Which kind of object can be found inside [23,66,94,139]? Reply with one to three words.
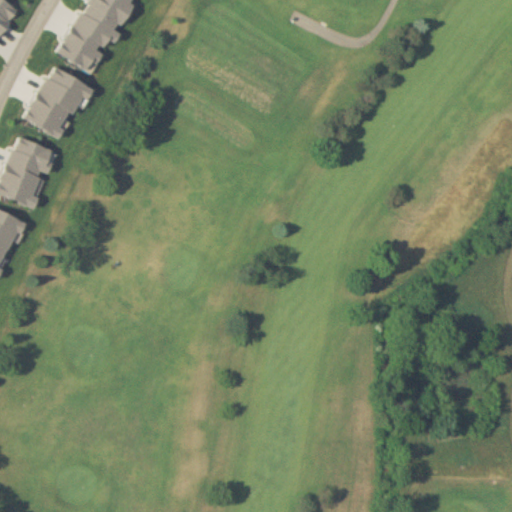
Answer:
house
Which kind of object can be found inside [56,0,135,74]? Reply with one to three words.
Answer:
house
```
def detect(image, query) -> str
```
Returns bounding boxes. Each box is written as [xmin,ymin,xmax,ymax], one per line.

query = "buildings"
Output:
[0,0,18,37]
[23,66,94,139]
[56,0,135,74]
[0,136,56,210]
[0,209,28,276]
